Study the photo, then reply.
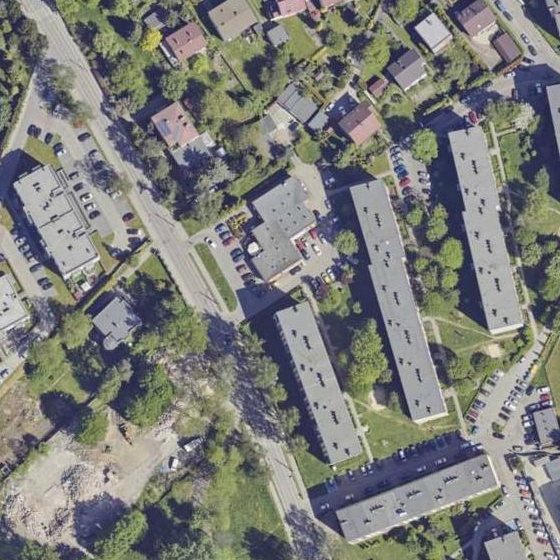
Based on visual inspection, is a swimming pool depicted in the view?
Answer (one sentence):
No, there is no swimming pool in the image.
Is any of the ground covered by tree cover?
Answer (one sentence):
Yes, the picture does contain tree cover.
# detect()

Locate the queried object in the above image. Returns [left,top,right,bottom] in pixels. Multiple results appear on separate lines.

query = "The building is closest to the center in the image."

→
[253,177,318,282]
